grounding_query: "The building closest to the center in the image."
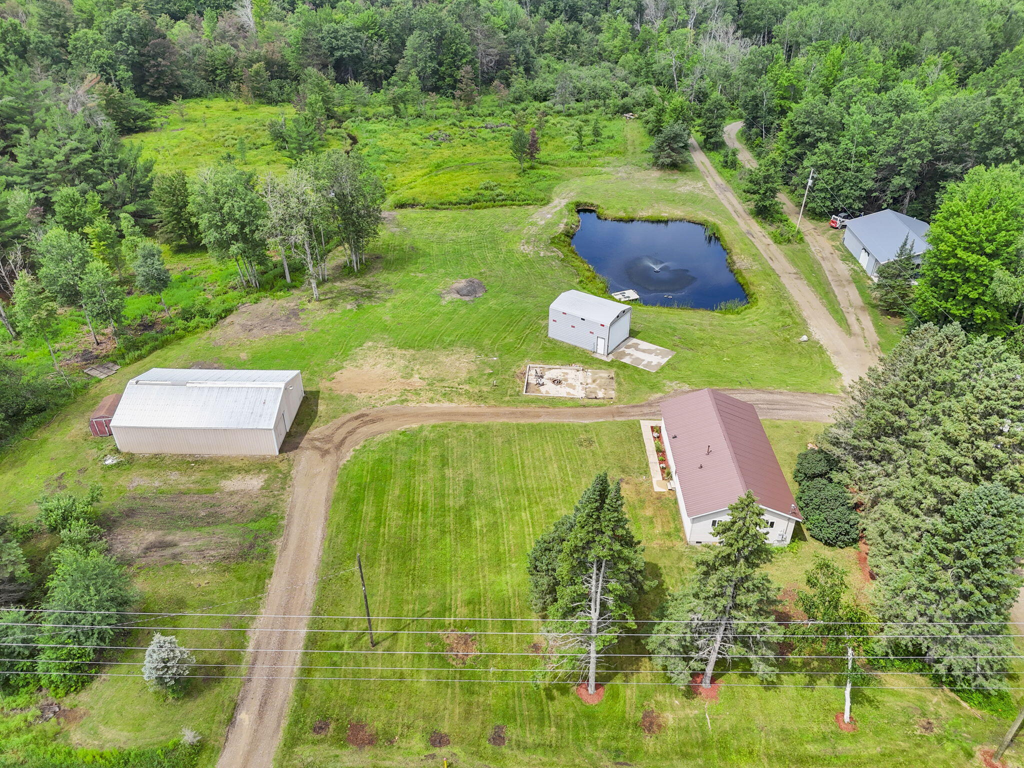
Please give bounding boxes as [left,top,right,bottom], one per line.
[548,291,632,356]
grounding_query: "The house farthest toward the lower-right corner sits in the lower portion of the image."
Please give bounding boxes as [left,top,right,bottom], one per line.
[659,387,803,545]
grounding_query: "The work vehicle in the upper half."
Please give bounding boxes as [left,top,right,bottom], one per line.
[831,212,853,229]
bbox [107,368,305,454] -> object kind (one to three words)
barn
